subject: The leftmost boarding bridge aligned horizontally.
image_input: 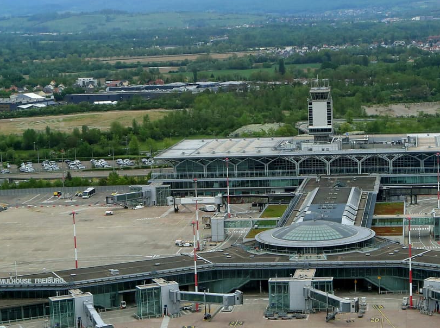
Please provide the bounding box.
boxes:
[105,189,146,206]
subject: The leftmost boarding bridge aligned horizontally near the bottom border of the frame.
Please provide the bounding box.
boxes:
[171,288,244,318]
